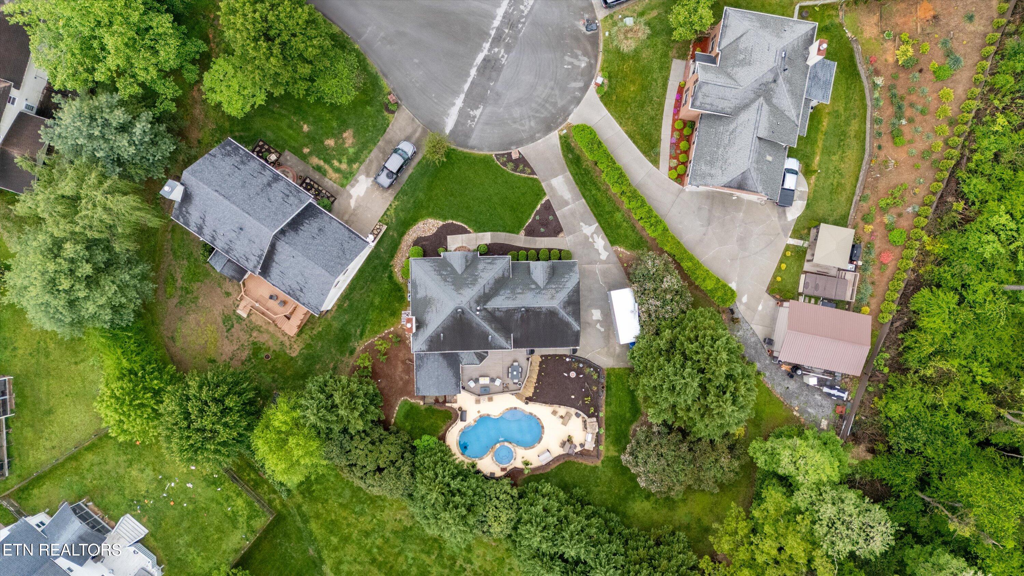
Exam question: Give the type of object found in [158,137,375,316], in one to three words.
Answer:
house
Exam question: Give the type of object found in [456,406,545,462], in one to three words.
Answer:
swimming pool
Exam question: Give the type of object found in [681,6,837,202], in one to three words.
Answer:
house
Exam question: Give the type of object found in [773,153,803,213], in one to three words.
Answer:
truck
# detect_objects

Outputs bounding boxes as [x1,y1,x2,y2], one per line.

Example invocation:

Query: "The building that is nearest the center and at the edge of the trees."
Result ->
[405,251,581,396]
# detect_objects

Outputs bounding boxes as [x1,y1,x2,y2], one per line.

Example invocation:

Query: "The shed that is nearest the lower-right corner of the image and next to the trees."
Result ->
[769,299,872,377]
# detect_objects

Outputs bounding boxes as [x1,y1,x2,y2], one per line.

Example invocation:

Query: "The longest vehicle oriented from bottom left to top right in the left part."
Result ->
[372,137,416,194]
